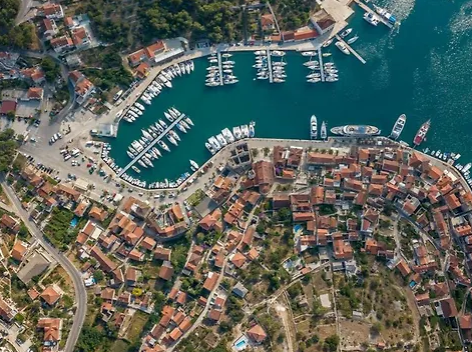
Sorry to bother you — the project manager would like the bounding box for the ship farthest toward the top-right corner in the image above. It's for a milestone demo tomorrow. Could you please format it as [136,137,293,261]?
[377,5,395,22]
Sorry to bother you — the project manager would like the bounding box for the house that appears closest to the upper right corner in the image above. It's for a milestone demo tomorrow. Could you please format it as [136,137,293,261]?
[313,10,334,33]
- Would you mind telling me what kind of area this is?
residential area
